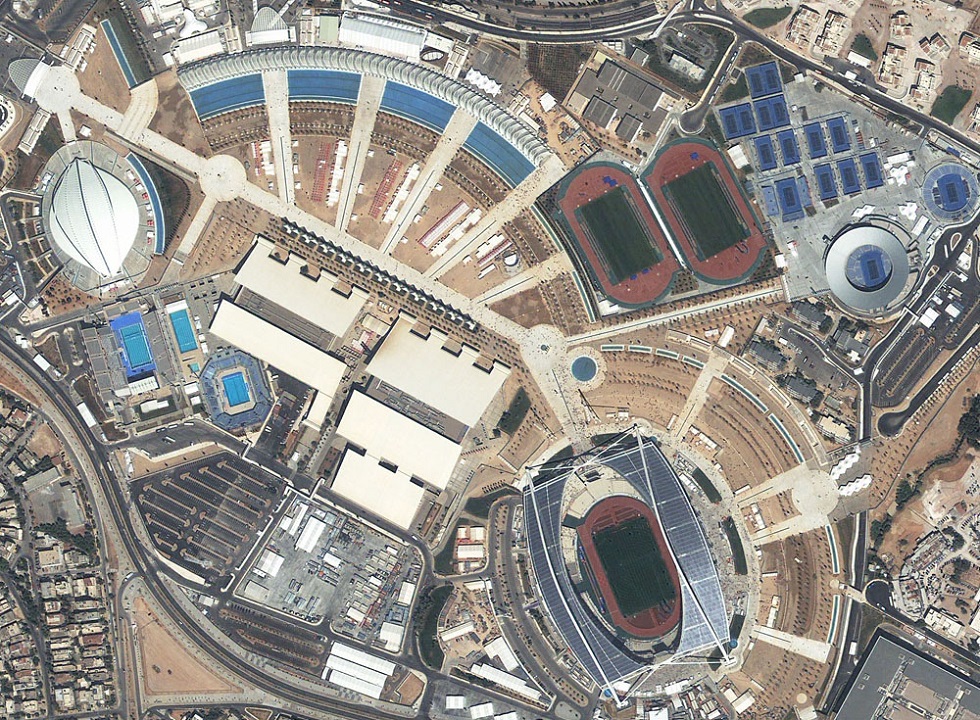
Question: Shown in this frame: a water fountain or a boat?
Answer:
water fountain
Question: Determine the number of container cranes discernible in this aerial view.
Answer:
none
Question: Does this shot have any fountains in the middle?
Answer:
Yes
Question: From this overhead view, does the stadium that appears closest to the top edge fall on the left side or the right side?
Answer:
right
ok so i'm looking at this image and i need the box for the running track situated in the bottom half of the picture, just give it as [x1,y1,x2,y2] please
[580,496,682,640]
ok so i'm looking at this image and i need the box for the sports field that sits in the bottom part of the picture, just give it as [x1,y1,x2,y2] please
[590,517,674,618]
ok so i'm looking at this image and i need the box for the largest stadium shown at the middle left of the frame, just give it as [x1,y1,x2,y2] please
[199,350,273,431]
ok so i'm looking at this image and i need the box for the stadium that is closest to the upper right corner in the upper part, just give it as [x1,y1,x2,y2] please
[922,163,980,221]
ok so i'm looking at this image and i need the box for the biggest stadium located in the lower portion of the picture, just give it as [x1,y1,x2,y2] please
[522,419,734,709]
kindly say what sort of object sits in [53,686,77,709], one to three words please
house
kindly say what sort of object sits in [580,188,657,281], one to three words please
sports field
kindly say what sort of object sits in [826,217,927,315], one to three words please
stadium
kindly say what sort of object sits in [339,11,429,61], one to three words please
building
